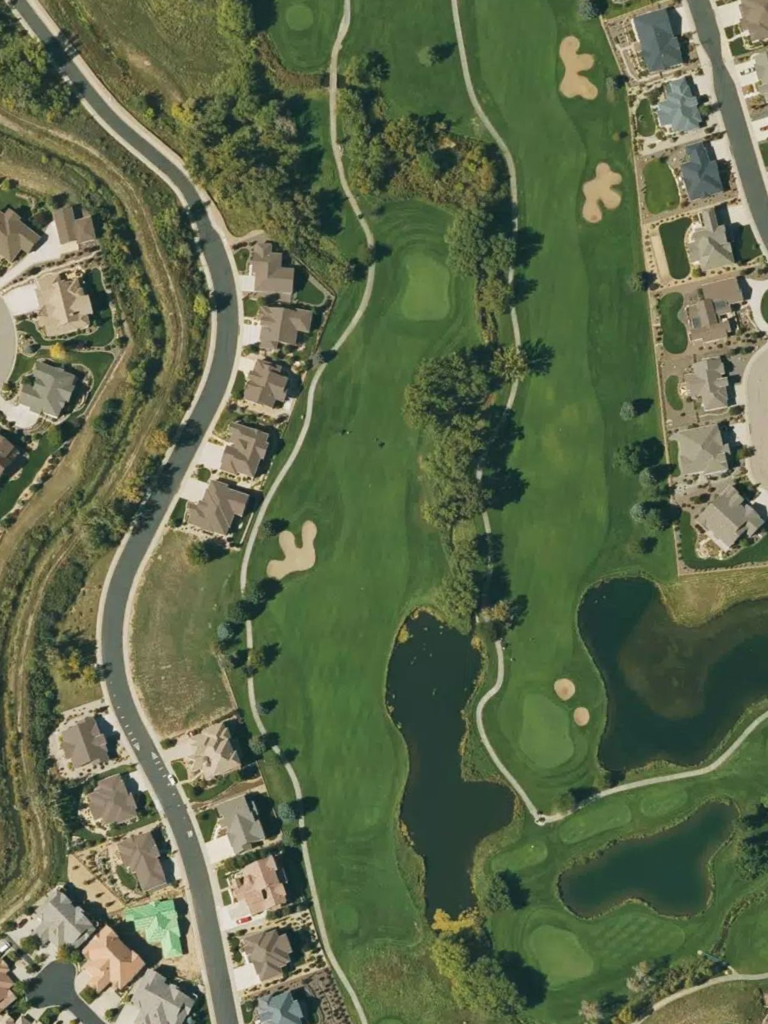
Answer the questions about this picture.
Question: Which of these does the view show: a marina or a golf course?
golf course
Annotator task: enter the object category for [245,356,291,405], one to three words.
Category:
house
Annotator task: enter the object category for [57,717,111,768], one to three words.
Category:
house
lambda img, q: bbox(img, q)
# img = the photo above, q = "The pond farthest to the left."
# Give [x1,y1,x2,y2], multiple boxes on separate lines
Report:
[385,611,514,921]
